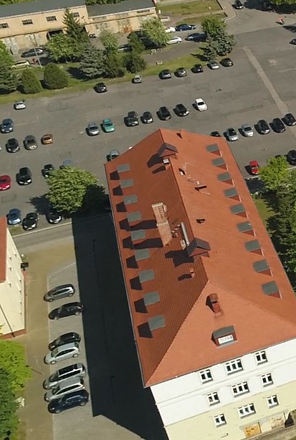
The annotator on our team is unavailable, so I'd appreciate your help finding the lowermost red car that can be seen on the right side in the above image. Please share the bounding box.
[248,161,261,175]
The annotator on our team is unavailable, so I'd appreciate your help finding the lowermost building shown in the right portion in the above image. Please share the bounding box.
[104,121,296,440]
